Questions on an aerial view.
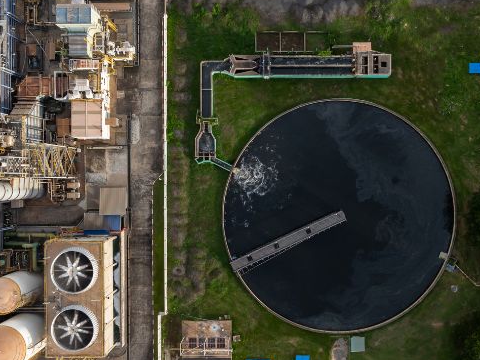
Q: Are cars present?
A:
No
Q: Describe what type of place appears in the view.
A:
industrial area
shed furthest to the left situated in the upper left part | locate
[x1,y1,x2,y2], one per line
[17,76,54,98]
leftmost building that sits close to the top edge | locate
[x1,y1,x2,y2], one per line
[54,1,109,33]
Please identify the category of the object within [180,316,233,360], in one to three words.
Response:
shed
